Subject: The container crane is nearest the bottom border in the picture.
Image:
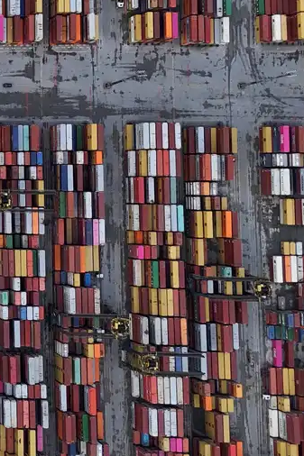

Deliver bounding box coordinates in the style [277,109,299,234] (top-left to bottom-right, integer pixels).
[111,336,206,379]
